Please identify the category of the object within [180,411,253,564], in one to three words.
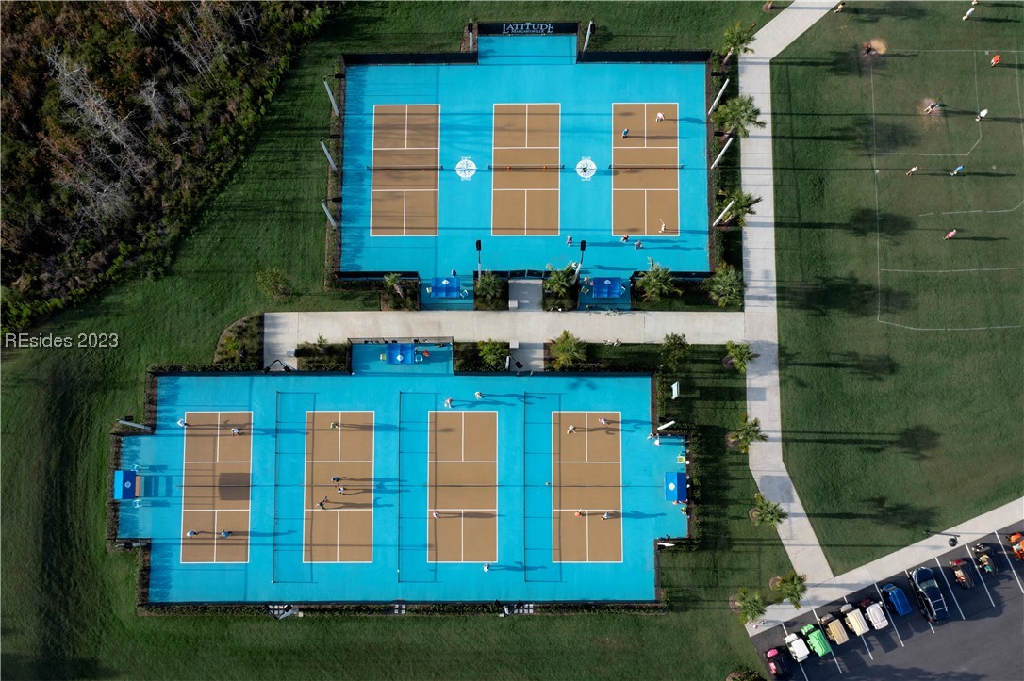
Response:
sports court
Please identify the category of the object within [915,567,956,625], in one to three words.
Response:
car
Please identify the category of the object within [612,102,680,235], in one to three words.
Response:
sports court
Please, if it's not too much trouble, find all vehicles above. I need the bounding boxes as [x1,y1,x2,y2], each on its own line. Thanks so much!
[767,649,795,681]
[803,627,833,660]
[976,546,1009,577]
[952,559,983,590]
[823,617,852,650]
[861,601,891,633]
[915,567,956,625]
[786,634,815,667]
[884,585,914,617]
[843,607,873,639]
